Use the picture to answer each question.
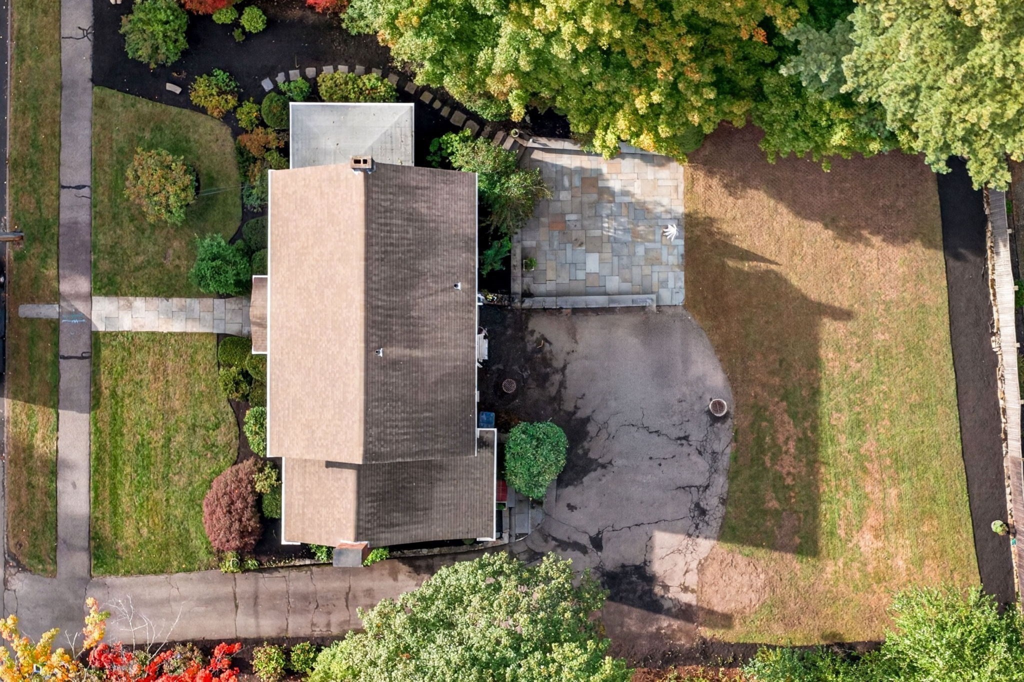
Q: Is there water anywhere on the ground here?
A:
No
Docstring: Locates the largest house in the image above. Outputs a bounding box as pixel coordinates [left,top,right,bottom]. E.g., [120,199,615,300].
[251,103,496,566]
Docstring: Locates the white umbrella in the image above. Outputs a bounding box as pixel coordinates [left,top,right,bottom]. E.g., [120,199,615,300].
[663,225,681,240]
